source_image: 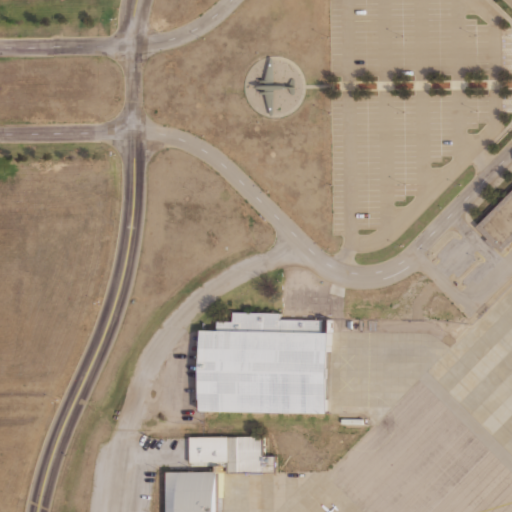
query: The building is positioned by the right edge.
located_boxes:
[476,190,512,262]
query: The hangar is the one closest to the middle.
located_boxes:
[196,312,336,414]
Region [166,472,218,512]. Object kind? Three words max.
shed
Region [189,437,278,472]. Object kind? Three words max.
building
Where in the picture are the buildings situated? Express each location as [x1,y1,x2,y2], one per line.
[196,312,336,414]
[476,190,512,262]
[166,472,218,512]
[189,437,278,472]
